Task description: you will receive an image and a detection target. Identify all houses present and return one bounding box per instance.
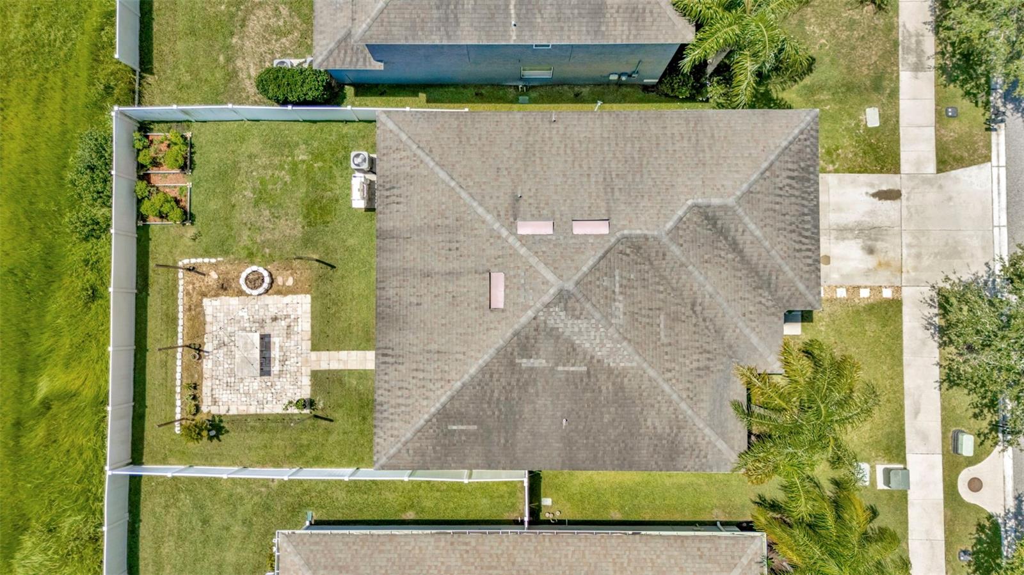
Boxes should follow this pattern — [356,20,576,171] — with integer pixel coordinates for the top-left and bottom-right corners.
[271,512,766,575]
[311,0,697,84]
[372,98,823,474]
